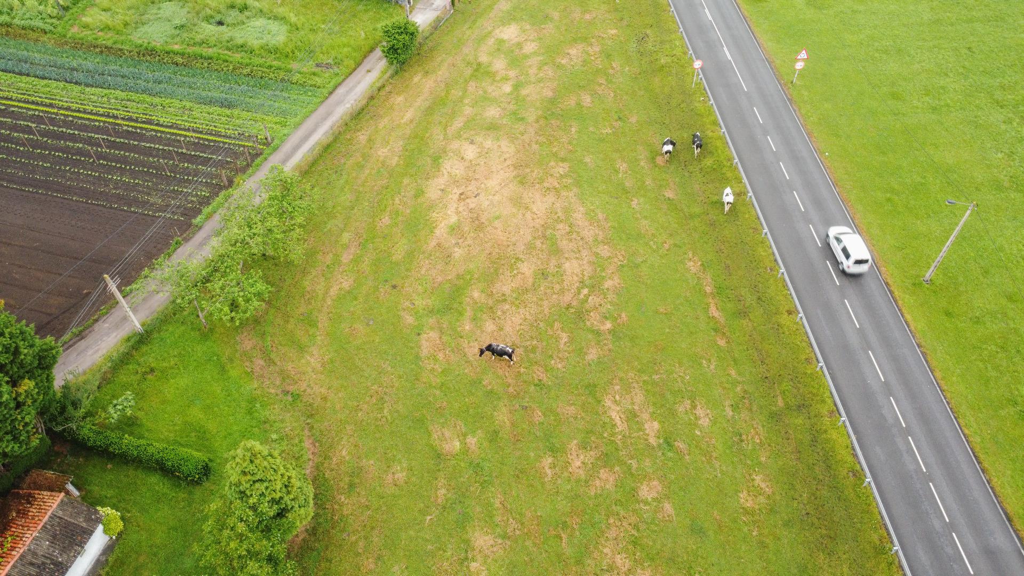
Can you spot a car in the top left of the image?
No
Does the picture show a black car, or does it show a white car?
white car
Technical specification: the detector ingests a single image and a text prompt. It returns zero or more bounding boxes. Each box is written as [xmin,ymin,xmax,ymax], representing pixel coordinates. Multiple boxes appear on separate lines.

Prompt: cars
[830,227,877,274]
